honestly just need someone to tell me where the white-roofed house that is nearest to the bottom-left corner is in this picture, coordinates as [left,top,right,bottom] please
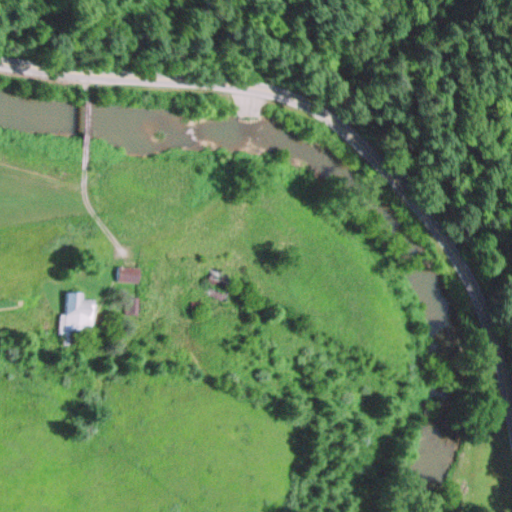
[57,290,96,346]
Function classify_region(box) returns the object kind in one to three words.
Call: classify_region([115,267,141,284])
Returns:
barn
